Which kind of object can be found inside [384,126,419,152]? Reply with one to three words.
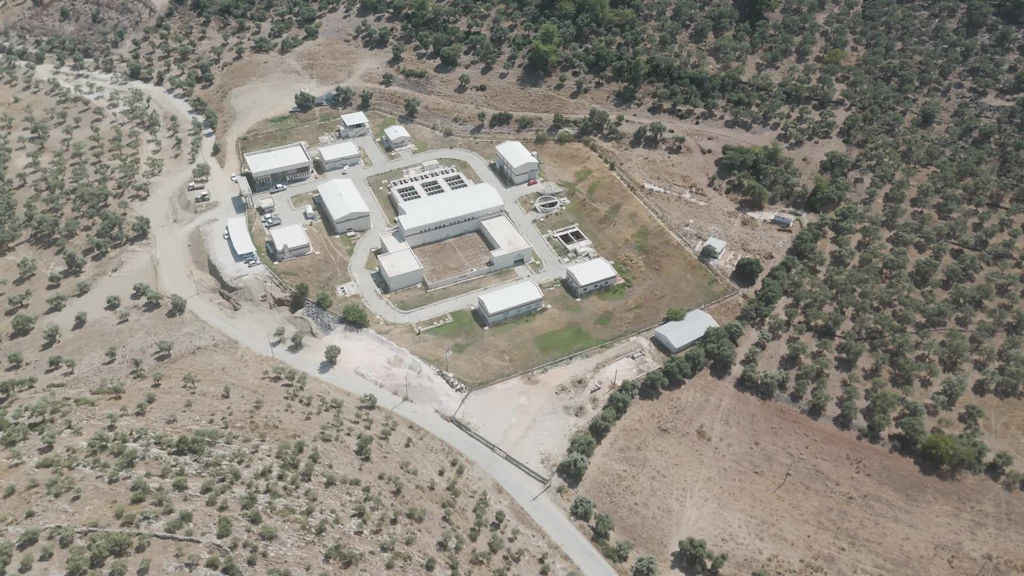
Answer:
house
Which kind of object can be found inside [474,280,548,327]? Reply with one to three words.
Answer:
building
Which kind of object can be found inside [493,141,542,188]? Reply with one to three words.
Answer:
building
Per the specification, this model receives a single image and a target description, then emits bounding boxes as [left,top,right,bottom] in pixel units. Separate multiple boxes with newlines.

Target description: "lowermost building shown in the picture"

[654,310,715,354]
